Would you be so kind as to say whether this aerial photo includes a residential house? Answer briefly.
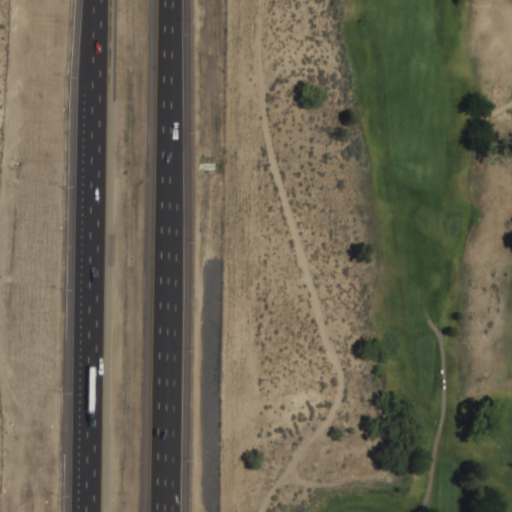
No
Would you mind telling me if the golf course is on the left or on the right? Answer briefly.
right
